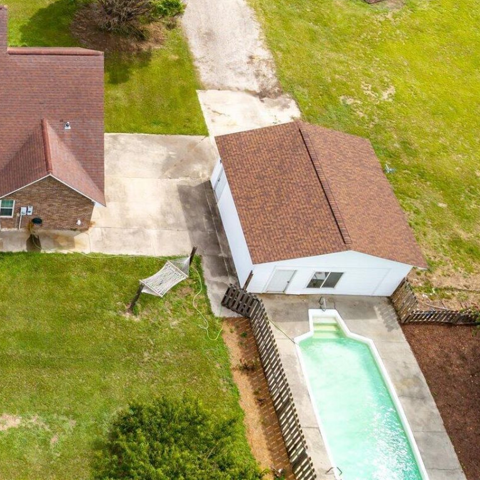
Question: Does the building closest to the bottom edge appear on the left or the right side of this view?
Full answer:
The building closest to the bottom edge is on the right side of the image.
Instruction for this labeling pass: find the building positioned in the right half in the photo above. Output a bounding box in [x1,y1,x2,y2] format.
[215,122,428,297]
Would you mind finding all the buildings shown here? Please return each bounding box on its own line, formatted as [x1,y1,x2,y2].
[0,6,107,231]
[215,122,428,297]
